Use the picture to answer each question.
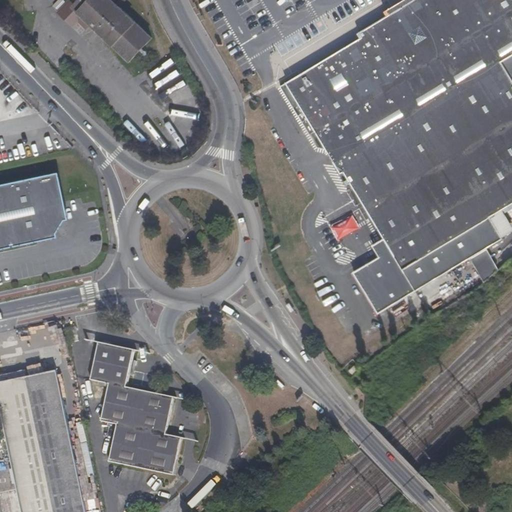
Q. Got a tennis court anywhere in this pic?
No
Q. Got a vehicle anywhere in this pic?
Yes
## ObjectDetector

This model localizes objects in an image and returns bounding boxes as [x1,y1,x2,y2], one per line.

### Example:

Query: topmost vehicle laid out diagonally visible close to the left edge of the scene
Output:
[2,40,36,73]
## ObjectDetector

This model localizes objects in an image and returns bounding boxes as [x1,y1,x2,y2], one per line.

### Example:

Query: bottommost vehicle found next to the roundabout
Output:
[221,304,240,319]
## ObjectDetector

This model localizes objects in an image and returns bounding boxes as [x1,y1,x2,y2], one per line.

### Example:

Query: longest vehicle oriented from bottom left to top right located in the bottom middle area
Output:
[188,476,220,509]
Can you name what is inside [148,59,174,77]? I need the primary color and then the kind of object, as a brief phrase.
white vehicle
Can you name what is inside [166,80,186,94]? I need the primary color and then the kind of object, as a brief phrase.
white vehicle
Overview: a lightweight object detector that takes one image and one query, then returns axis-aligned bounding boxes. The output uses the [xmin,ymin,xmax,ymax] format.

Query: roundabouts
[122,170,256,306]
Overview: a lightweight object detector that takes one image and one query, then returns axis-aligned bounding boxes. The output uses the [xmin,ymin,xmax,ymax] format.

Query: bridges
[342,411,458,512]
